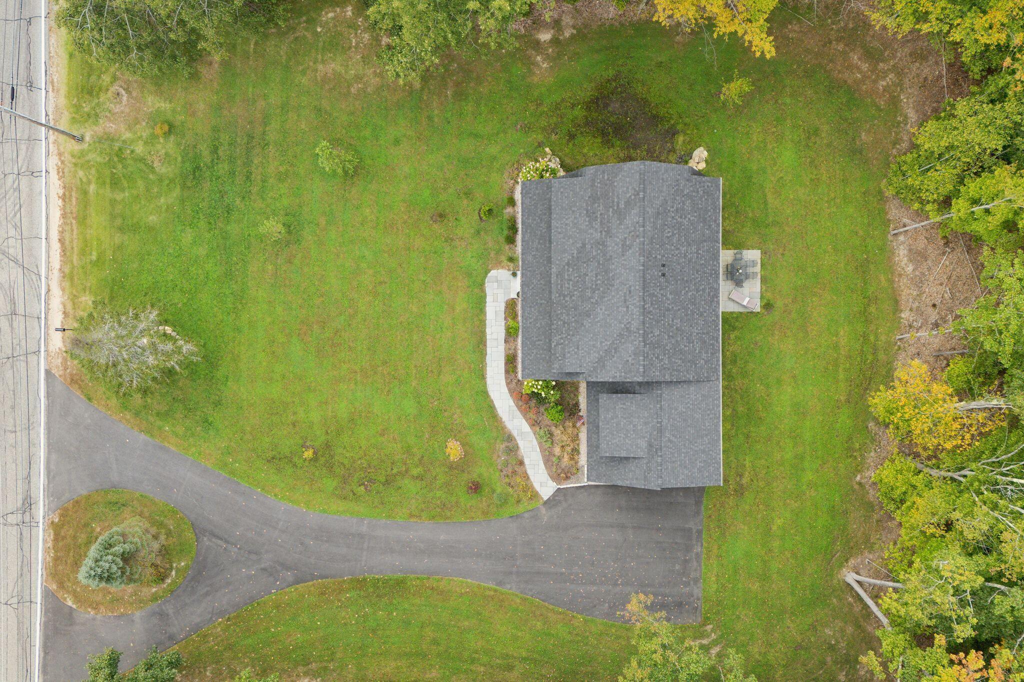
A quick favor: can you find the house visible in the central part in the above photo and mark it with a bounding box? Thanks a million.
[518,162,722,489]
